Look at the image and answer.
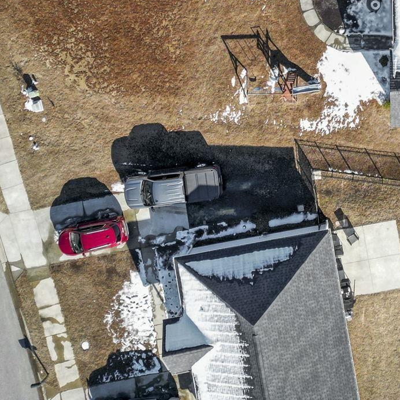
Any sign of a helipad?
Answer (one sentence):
No, the scene contains no helipad.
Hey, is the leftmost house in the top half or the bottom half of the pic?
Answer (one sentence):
You can find the leftmost house in the bottom half.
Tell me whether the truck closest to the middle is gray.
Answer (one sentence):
Yes, gray is the color of the truck closest to the middle.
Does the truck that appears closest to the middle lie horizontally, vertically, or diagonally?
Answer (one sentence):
The truck that appears closest to the middle runs horizontally in the image.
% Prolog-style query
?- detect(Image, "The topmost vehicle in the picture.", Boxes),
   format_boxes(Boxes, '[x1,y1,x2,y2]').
[121,162,225,210]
